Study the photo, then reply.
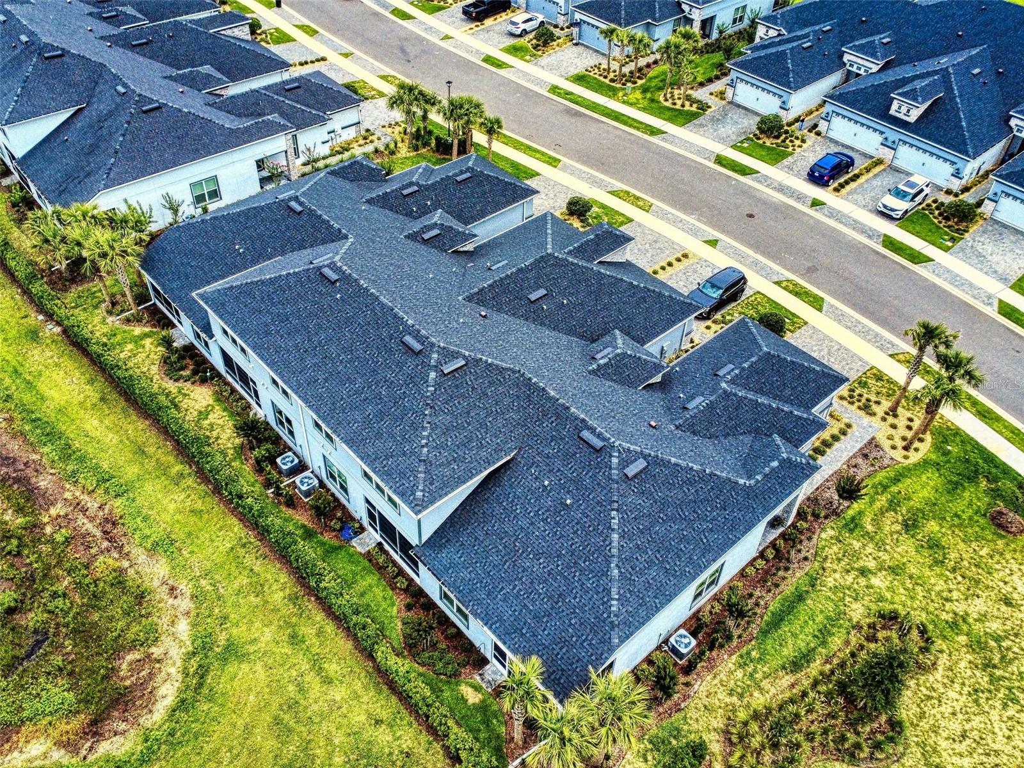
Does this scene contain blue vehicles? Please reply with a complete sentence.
Yes, there's a blue vehicle down there.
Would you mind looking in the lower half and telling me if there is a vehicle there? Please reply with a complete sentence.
No, no vehicle can be made out in the lower half.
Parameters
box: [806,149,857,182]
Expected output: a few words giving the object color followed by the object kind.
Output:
blue car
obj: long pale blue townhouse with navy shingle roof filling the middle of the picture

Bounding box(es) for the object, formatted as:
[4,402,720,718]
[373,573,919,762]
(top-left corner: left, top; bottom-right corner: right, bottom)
[103,154,854,727]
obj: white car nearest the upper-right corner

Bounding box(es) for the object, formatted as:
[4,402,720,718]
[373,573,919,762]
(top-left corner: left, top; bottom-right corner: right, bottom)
[879,171,934,216]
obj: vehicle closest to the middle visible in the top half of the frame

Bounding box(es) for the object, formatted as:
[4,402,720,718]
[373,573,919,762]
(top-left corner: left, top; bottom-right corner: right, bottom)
[689,265,752,319]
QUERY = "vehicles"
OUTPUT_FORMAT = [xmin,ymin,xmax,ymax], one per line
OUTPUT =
[879,171,934,216]
[689,265,752,319]
[506,10,546,34]
[806,149,857,182]
[466,0,516,18]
